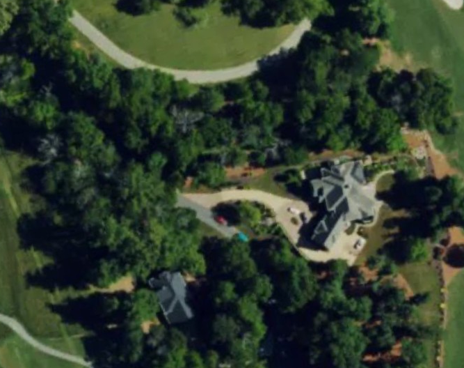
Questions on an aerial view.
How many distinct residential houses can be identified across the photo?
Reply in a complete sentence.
In total, there are 2 residential houses in the scene.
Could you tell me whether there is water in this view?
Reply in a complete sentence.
No, the picture contains no water.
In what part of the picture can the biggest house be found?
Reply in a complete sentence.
You can find the biggest house in the right area of the picture.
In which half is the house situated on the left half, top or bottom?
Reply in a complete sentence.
You can find the house situated on the left half in the bottom half.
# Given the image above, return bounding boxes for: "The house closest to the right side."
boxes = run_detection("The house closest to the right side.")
[305,160,383,248]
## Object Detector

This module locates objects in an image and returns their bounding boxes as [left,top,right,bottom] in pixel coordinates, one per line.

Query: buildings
[146,268,193,324]
[305,160,383,248]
